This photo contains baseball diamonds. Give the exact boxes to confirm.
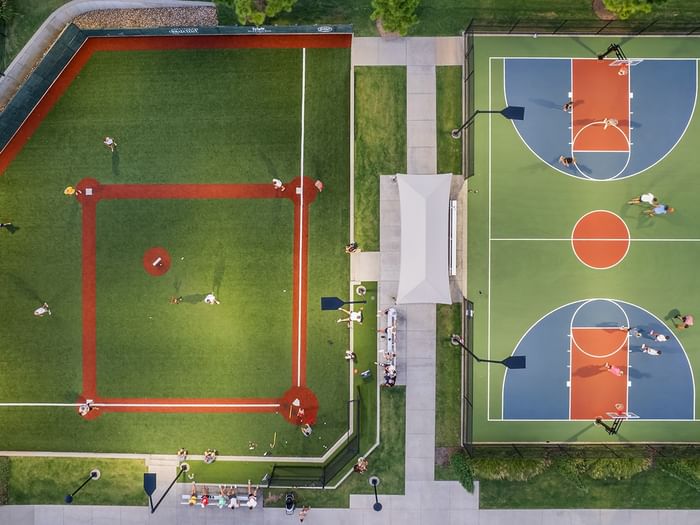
[0,36,378,485]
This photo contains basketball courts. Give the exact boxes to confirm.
[464,36,700,444]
